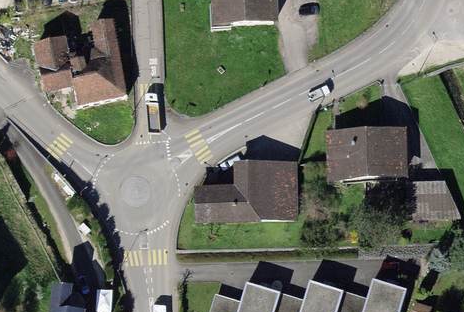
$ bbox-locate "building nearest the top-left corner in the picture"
[32,36,69,70]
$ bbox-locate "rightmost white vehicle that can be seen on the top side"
[306,82,333,100]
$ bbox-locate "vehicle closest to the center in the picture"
[220,154,242,169]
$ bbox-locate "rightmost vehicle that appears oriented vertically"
[144,92,160,134]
